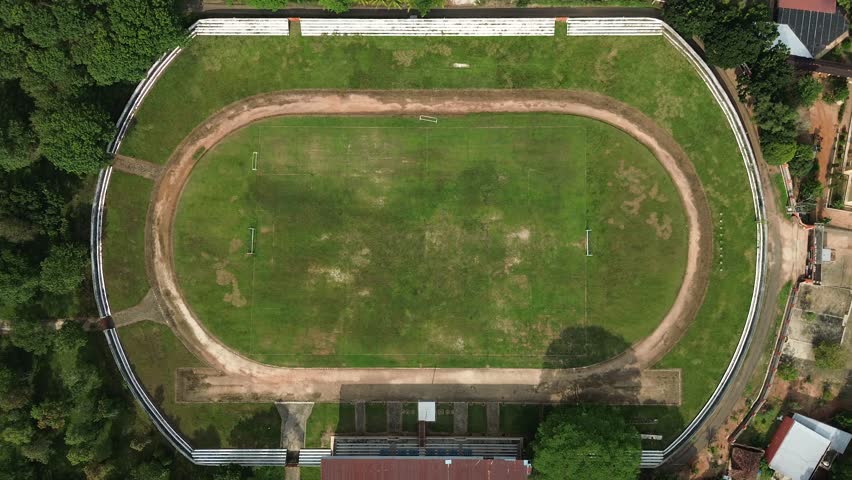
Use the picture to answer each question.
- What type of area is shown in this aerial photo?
sports ground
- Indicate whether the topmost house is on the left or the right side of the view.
right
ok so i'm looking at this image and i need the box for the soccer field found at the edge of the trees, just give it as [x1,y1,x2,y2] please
[252,126,587,355]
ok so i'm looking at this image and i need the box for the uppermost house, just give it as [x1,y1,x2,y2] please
[760,0,850,59]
